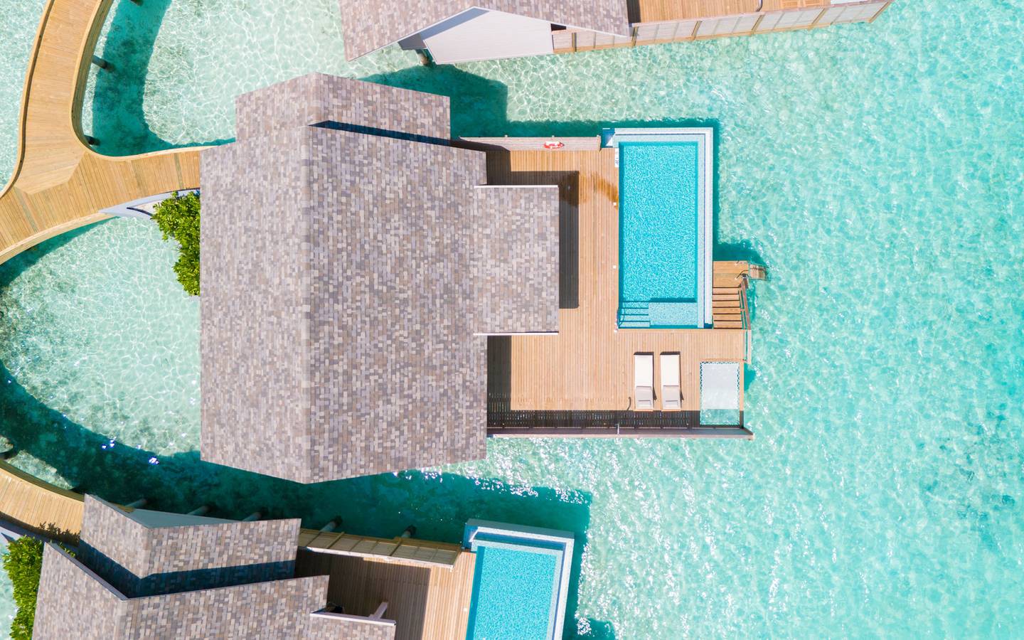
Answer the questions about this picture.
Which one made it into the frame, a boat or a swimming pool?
swimming pool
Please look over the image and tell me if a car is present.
No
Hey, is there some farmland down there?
No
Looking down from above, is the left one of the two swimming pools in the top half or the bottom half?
bottom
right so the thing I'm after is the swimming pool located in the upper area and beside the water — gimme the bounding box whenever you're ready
[598,127,713,333]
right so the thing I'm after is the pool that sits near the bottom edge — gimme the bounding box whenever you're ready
[459,517,575,640]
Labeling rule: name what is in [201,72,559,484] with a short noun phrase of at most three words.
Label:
house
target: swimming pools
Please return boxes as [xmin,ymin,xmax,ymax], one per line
[459,517,575,640]
[598,127,713,333]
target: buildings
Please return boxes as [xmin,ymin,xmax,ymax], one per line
[32,493,396,640]
[201,72,559,484]
[339,0,626,65]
